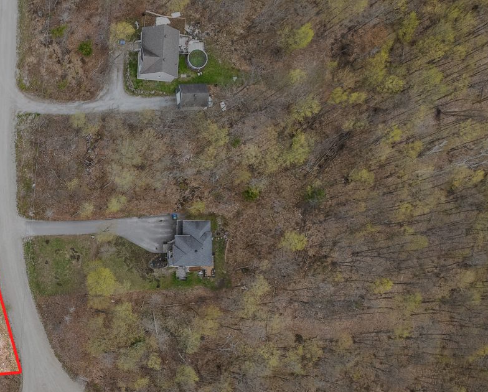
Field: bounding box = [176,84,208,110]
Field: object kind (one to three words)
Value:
building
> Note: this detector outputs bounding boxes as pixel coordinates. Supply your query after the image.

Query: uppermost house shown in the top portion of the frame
[133,26,207,83]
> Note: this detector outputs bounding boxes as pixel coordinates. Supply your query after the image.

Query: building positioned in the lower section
[165,220,215,279]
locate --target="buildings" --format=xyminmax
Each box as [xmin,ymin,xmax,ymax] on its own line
[133,26,207,83]
[165,220,215,279]
[176,84,208,110]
